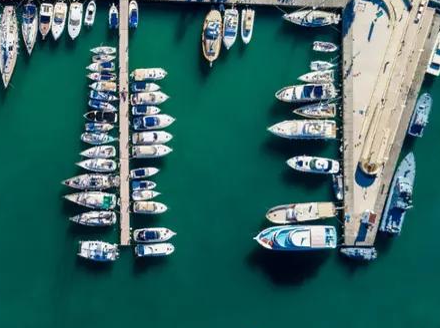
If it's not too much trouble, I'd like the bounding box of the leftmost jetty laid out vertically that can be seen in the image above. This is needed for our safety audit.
[118,0,132,245]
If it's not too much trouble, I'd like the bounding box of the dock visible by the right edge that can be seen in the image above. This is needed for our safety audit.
[339,0,440,246]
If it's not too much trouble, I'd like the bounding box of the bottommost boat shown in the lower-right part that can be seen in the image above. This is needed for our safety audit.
[339,246,378,260]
